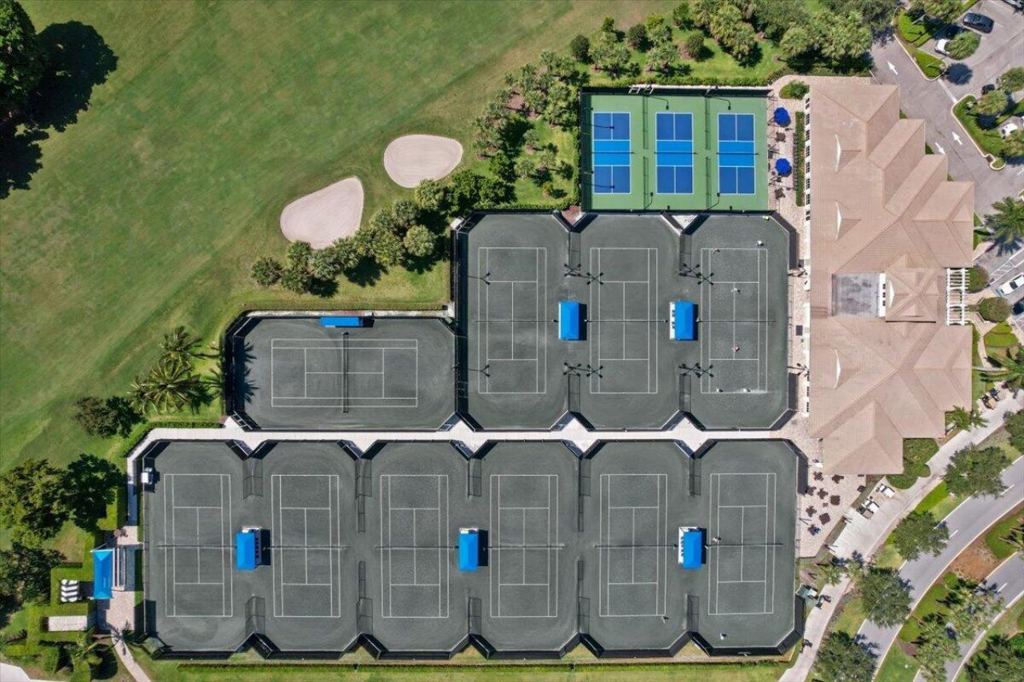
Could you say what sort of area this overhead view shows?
sports ground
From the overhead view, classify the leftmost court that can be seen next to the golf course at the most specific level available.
tennis court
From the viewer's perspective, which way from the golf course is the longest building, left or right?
to its right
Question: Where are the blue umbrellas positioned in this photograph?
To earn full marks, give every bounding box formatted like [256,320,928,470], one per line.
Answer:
[774,158,791,175]
[773,107,790,125]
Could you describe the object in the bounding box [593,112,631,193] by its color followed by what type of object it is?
blue sports court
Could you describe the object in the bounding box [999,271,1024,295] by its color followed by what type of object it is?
white car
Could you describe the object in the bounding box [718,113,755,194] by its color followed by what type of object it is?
blue sports court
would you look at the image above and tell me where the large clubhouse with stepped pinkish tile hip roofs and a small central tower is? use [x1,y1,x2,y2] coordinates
[803,84,974,474]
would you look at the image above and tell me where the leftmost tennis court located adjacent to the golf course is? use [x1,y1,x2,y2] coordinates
[144,443,253,651]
